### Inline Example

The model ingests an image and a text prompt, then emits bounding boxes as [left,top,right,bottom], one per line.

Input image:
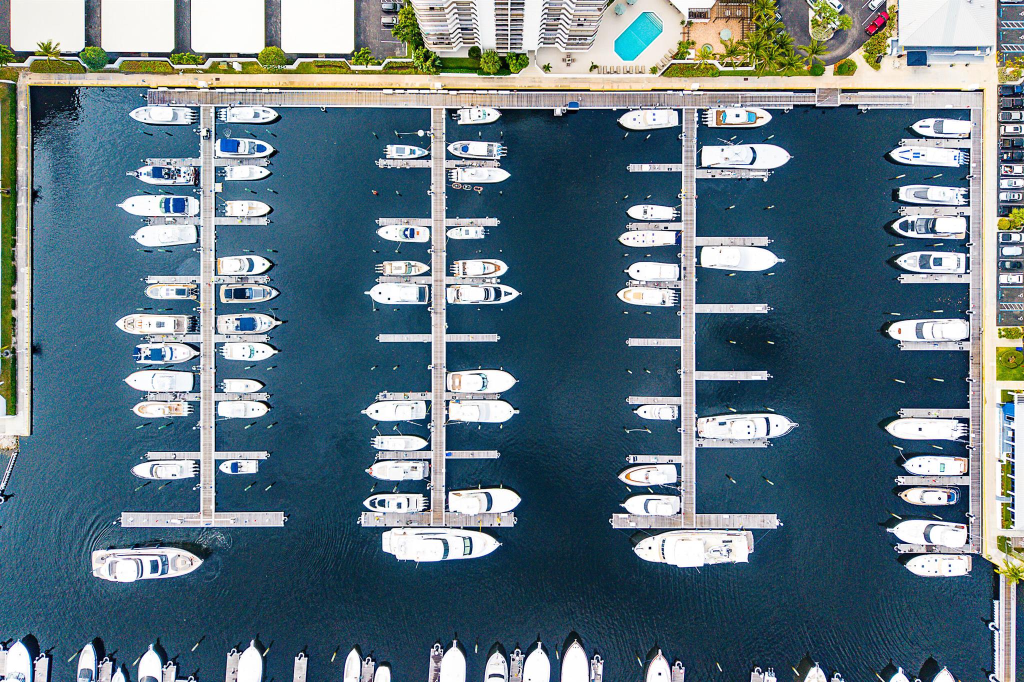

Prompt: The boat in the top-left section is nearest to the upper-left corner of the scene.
[129,106,200,124]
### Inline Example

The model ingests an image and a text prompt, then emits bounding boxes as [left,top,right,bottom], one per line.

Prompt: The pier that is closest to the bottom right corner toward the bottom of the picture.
[995,572,1016,682]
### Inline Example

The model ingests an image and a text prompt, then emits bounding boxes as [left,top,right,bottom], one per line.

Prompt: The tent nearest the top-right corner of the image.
[902,52,926,69]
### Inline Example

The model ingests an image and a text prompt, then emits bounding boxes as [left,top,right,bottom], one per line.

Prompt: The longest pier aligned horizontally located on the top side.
[144,90,869,112]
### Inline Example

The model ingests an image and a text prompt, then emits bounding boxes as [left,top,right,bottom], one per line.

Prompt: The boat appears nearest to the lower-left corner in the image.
[4,638,35,682]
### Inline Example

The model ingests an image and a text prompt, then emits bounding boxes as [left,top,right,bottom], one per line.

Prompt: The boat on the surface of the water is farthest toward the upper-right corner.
[909,115,971,139]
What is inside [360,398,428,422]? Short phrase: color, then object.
white boat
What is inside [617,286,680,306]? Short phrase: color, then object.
white boat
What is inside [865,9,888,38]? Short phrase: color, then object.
red truck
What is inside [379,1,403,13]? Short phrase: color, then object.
gray vehicle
